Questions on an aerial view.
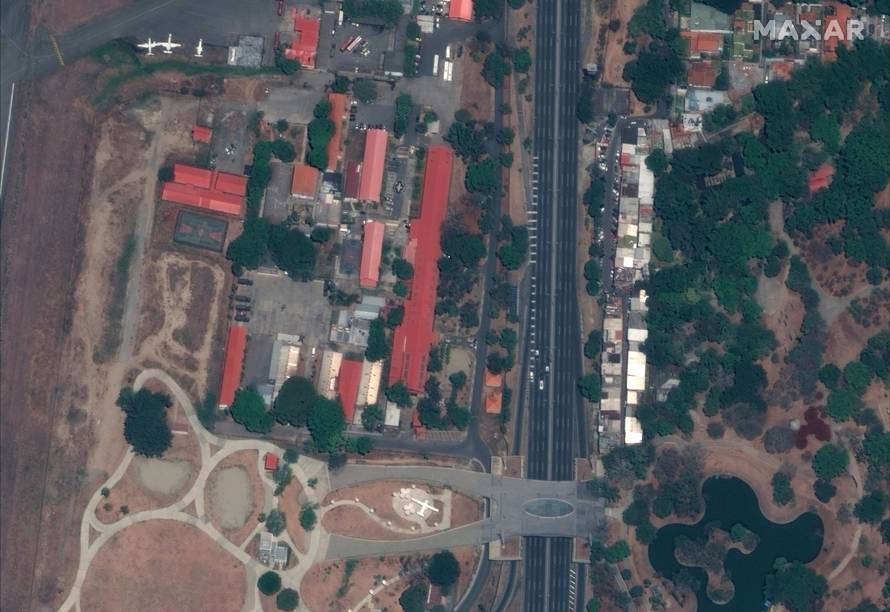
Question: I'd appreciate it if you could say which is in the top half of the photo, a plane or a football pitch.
plane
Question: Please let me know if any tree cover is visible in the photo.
Yes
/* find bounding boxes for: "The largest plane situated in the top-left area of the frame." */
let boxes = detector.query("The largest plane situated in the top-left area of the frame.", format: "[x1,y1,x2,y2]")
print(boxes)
[156,34,181,52]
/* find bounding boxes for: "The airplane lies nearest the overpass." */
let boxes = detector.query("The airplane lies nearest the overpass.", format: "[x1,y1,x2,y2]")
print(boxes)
[410,498,440,515]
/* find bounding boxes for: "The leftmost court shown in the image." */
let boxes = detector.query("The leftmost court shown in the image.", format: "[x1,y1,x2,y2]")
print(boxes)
[174,208,229,252]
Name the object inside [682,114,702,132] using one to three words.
house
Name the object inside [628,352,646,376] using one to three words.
building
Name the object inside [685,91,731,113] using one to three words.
house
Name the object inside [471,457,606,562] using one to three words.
overpass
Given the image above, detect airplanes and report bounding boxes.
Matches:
[156,34,181,52]
[196,39,203,56]
[410,498,440,515]
[140,38,159,53]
